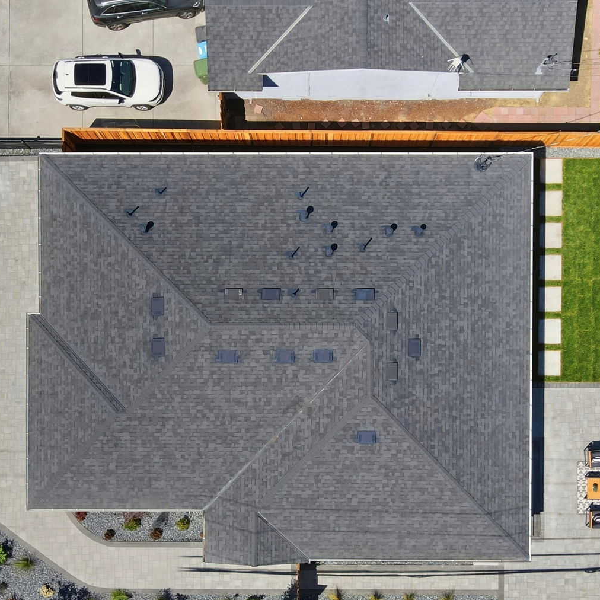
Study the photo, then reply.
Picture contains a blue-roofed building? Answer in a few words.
No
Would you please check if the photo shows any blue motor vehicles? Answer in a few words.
No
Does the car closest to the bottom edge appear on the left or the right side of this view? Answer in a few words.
left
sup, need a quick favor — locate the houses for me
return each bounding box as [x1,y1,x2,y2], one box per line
[206,0,575,103]
[25,151,535,567]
